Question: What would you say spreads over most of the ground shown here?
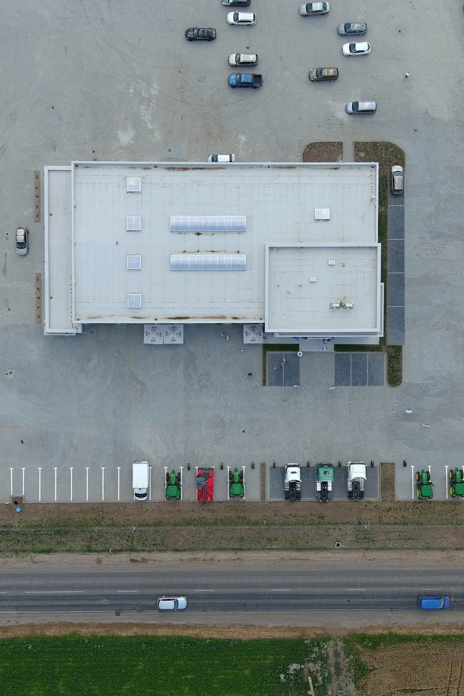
paved ground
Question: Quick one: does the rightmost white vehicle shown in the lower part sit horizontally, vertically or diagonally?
vertically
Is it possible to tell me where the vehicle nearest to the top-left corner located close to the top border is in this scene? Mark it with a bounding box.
[185,26,217,41]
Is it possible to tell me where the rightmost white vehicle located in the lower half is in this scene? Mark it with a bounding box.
[348,459,368,499]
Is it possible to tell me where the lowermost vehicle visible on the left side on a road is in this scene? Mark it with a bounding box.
[157,596,187,612]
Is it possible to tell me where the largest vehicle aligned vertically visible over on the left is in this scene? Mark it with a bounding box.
[131,458,149,501]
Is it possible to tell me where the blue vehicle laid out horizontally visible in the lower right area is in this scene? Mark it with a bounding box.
[417,596,450,610]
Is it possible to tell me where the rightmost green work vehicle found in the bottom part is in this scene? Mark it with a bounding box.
[448,466,464,497]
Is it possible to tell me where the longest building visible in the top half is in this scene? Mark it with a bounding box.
[42,153,384,337]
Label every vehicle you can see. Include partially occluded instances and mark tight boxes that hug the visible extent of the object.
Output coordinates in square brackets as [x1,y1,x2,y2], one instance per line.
[222,0,252,7]
[299,1,330,16]
[228,72,262,88]
[283,462,303,501]
[315,462,335,502]
[185,26,217,41]
[14,226,29,257]
[414,468,434,500]
[131,458,149,501]
[310,65,338,81]
[207,152,236,162]
[229,52,258,67]
[417,596,450,610]
[157,596,187,612]
[346,99,376,114]
[165,468,182,500]
[448,466,464,497]
[337,21,368,36]
[227,10,256,25]
[348,459,368,499]
[228,466,244,497]
[342,41,371,56]
[391,166,405,195]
